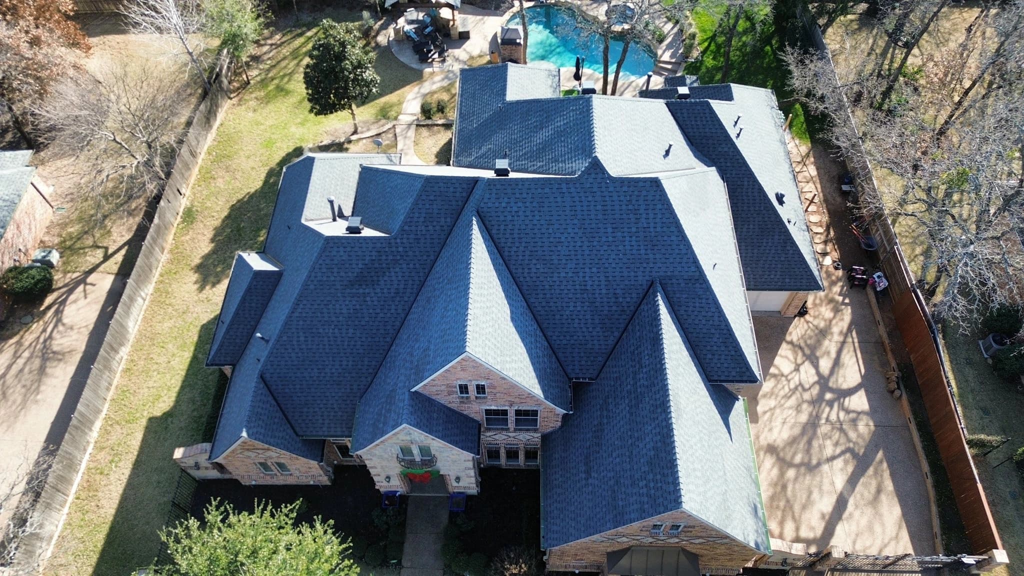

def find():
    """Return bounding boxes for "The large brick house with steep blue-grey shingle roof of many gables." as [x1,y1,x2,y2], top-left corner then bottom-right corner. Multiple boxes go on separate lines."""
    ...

[202,63,827,576]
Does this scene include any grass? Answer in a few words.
Yes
